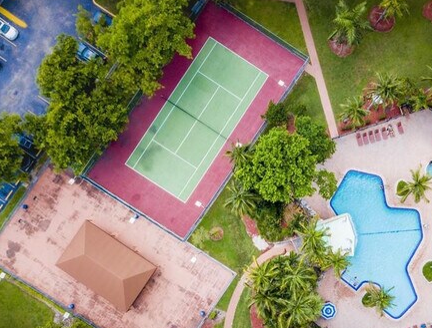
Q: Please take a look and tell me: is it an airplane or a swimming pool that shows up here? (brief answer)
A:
swimming pool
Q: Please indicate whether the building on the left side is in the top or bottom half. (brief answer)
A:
bottom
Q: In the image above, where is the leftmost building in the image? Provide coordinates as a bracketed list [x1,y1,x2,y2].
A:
[56,220,157,313]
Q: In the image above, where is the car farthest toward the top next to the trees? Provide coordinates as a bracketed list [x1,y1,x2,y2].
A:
[86,3,106,20]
